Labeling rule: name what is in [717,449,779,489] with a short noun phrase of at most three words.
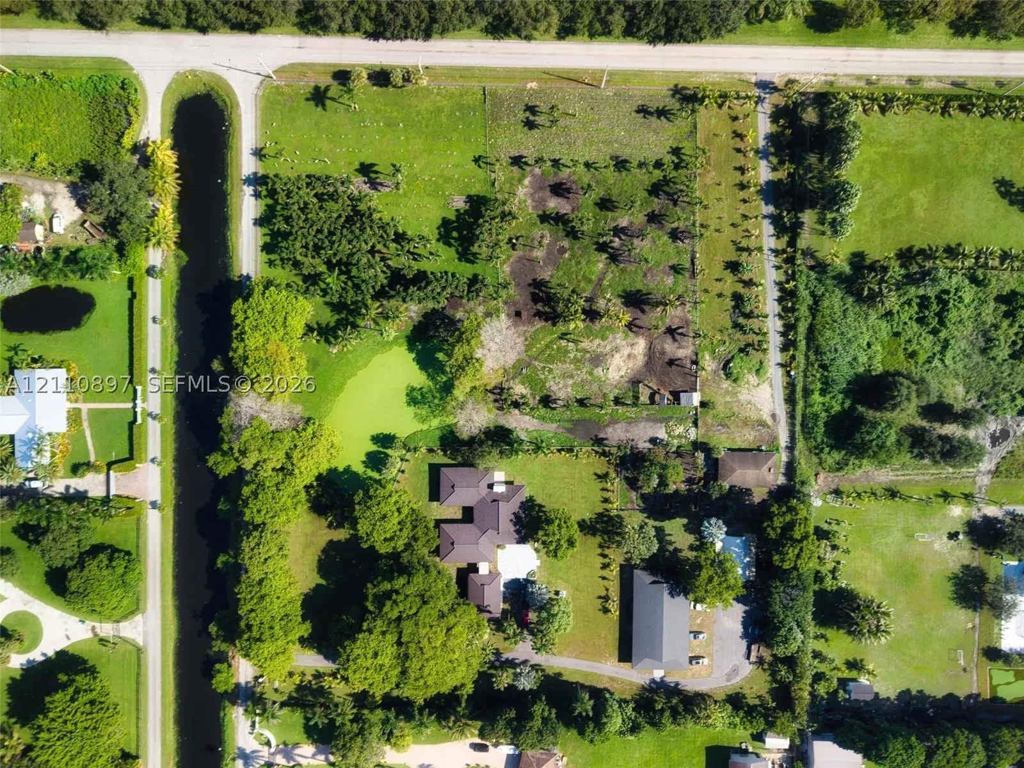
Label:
house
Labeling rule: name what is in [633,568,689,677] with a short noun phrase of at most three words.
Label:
barn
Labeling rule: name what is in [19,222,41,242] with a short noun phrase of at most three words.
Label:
shed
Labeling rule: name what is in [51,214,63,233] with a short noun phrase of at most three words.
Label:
vehicle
